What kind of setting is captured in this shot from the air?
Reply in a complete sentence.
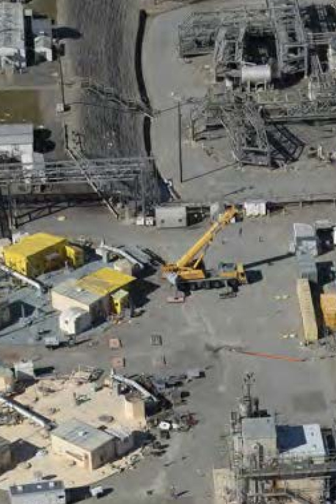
This looks like an industrial area.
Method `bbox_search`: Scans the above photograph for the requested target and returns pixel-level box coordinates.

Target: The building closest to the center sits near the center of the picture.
[155,205,188,228]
